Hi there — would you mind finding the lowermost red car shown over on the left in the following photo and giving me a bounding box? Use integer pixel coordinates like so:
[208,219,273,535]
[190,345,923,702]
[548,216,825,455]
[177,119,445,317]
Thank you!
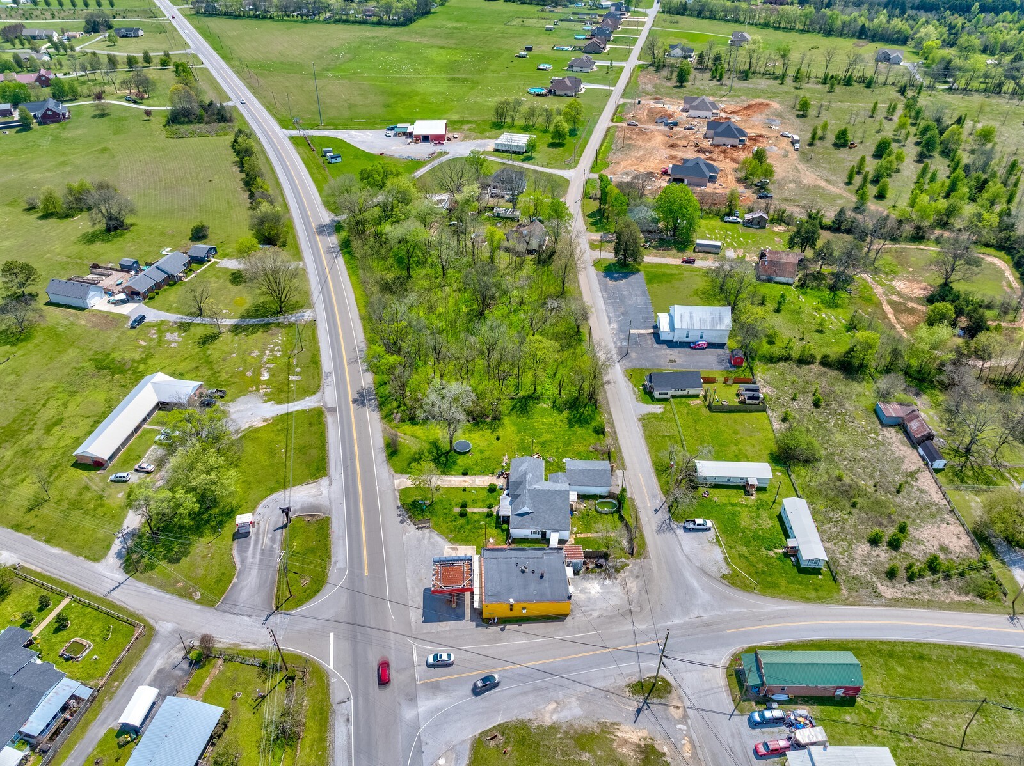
[376,657,389,686]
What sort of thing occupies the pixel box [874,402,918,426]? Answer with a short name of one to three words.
barn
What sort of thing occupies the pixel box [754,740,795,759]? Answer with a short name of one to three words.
vehicle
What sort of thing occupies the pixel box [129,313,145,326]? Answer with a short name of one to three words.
vehicle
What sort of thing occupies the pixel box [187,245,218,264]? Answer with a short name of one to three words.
building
